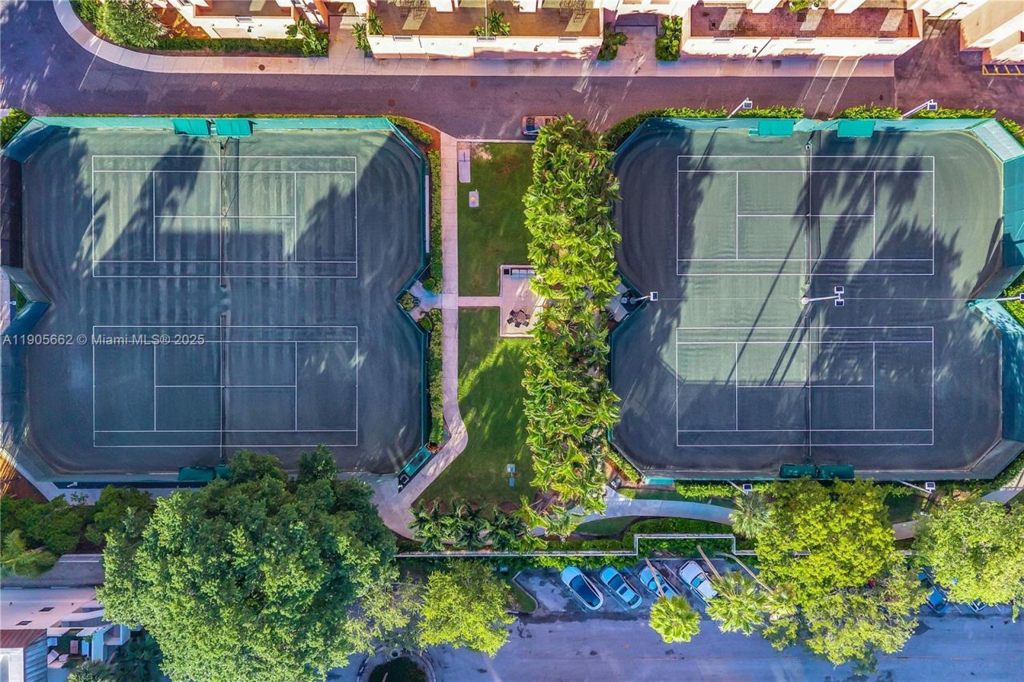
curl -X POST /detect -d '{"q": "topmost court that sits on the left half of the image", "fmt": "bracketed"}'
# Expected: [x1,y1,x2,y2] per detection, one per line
[22,128,424,301]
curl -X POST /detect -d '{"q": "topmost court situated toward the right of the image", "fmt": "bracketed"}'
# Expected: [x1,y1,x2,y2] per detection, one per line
[614,130,1004,301]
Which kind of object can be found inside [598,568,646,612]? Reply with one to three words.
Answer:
car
